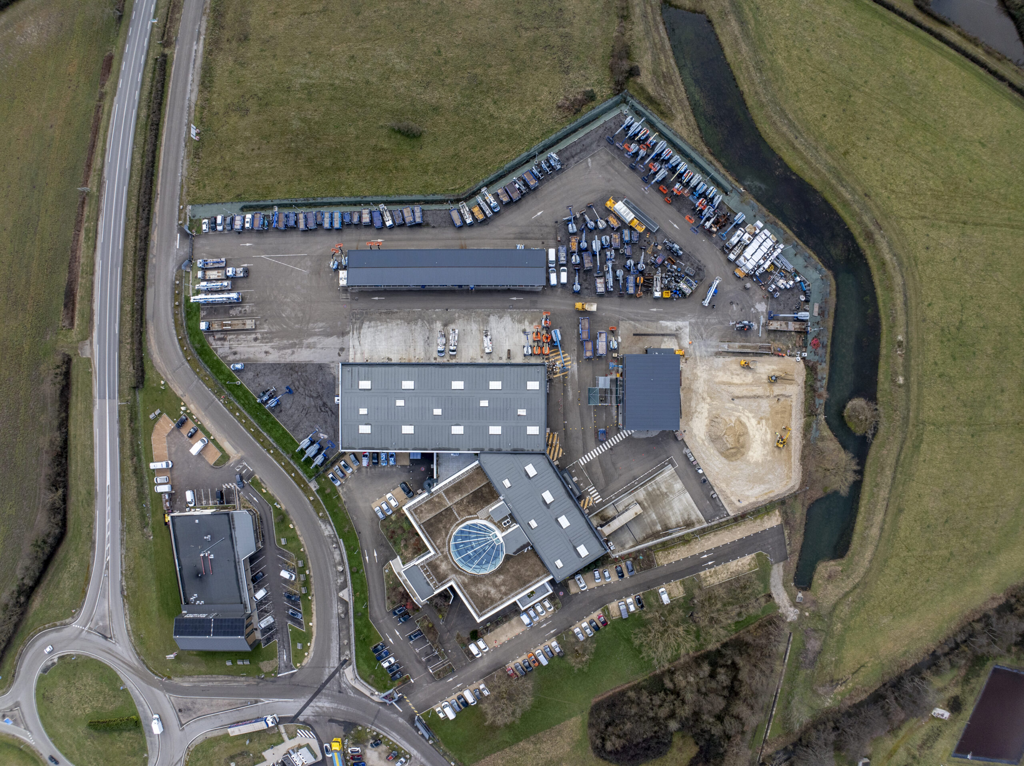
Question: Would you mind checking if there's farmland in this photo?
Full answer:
Yes, the picture does contain farmland.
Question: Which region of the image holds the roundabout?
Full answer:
You can find the roundabout in the bottom left area of the picture.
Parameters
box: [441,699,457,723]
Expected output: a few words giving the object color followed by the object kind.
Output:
white vehicle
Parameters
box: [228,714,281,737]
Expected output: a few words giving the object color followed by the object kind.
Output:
white truck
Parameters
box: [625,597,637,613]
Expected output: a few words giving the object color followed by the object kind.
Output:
white vehicle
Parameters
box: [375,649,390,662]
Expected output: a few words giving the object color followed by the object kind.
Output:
blue vehicle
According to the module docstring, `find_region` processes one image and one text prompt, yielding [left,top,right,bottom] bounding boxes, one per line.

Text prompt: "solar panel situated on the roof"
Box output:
[174,619,245,636]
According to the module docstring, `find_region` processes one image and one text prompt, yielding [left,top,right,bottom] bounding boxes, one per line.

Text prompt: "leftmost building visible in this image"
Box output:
[170,509,260,651]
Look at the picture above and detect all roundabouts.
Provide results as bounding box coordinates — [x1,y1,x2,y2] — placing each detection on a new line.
[0,598,256,766]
